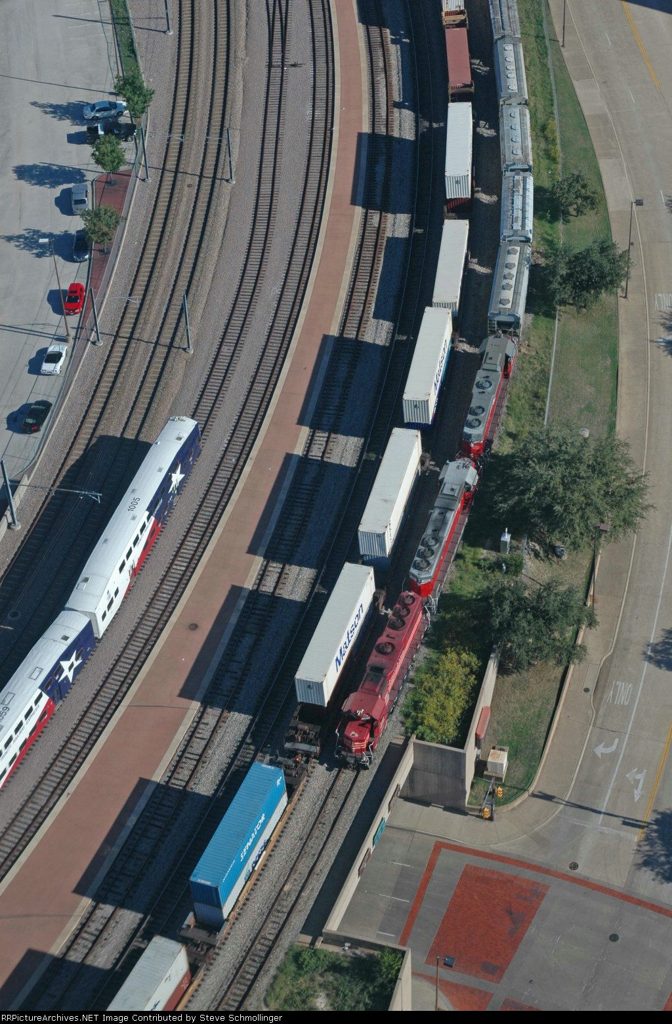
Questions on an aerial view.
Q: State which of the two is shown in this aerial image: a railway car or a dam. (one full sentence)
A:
I can see a railway car in this picture.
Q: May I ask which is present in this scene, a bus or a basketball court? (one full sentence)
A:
The one in the frame is a bus.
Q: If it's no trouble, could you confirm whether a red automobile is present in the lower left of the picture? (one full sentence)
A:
No, there's no red automobile to be seen in the lower left of the picture.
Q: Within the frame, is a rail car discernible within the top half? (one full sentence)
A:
Yes, there is a rail car within the top half.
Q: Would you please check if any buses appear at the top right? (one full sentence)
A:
No, no bus can be made out at the top right.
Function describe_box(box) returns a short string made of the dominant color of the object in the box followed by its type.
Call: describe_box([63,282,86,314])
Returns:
red car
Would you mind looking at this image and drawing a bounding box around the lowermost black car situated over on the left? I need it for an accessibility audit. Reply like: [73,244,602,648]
[19,399,51,433]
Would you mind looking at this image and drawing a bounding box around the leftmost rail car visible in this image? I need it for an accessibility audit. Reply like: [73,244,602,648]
[166,946,208,1024]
